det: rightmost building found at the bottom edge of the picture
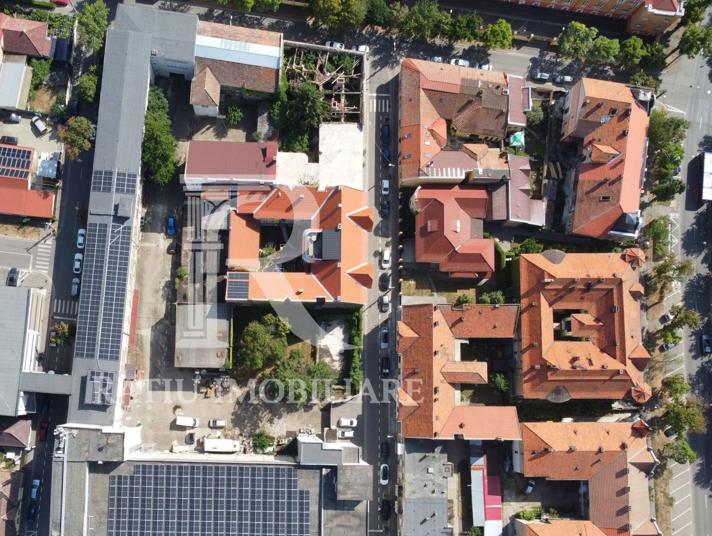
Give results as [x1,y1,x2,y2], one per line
[512,418,663,536]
